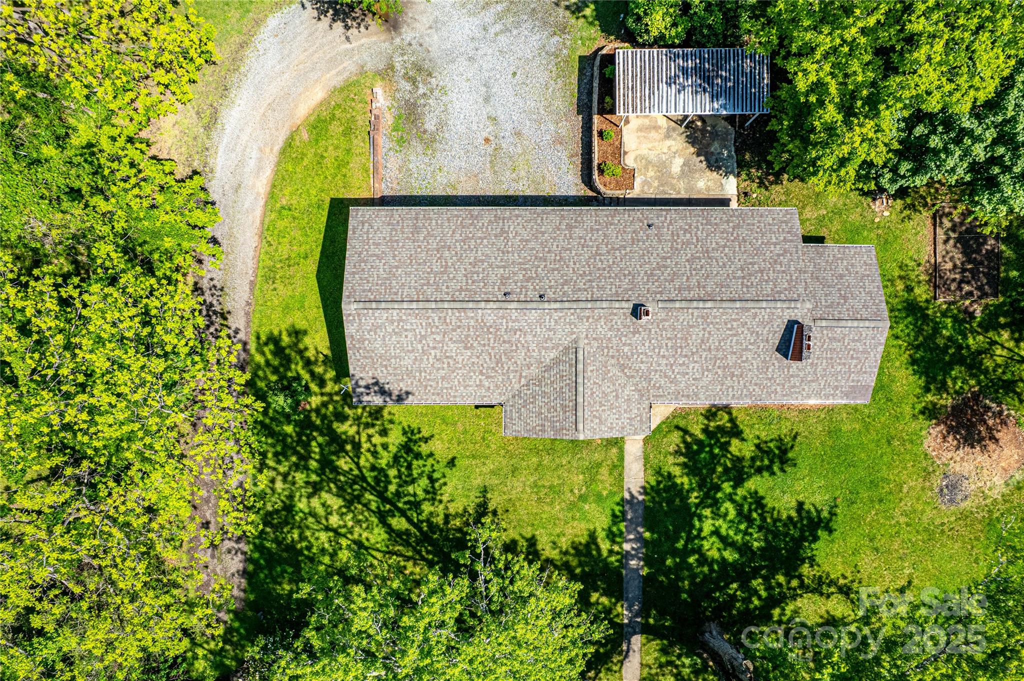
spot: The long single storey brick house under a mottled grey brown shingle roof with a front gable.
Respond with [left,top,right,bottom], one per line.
[343,205,889,440]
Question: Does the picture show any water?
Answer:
No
